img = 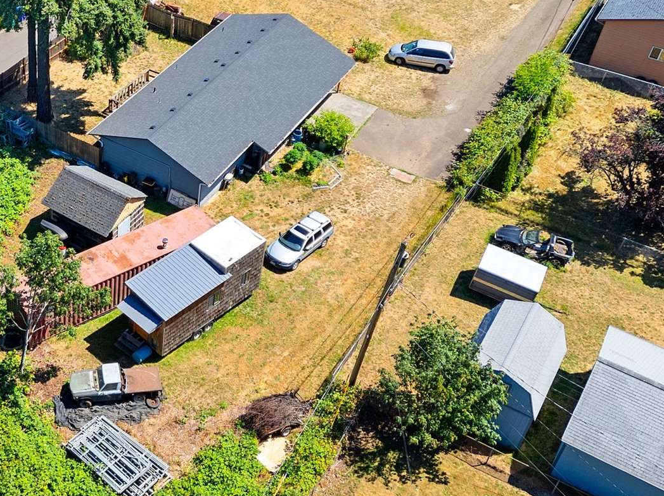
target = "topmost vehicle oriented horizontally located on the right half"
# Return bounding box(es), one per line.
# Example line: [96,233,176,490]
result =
[386,42,455,76]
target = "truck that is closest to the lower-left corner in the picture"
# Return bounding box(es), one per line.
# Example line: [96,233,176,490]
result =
[69,364,167,409]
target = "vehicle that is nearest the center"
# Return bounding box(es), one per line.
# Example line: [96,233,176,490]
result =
[267,207,335,270]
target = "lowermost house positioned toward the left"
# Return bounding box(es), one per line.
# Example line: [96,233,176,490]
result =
[115,215,266,365]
